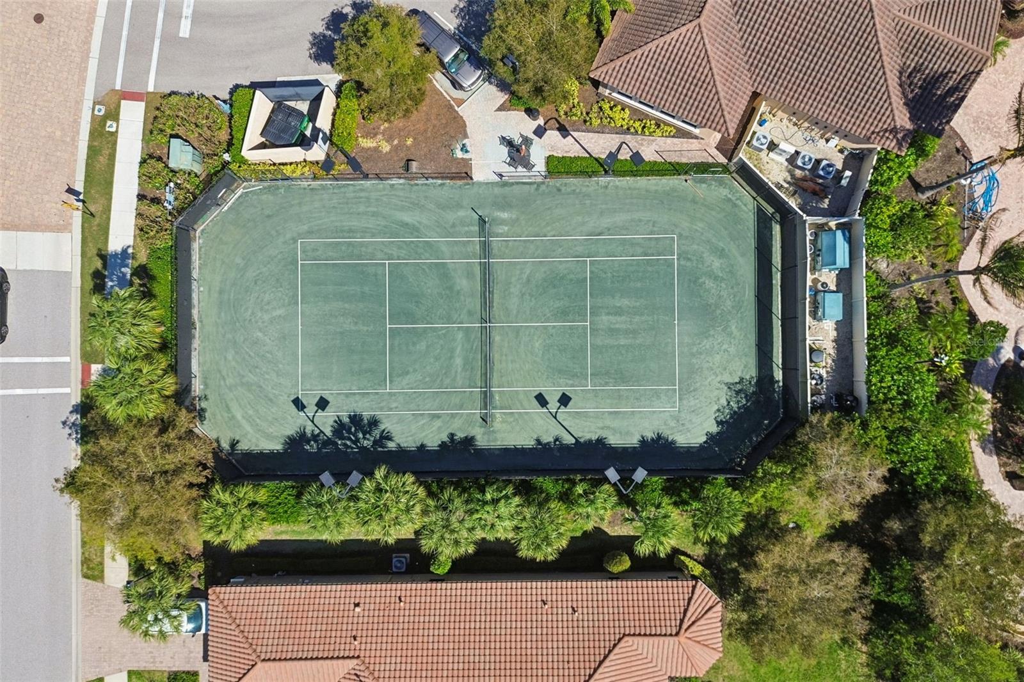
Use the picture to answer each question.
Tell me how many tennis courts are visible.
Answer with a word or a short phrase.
1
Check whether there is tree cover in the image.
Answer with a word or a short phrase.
Yes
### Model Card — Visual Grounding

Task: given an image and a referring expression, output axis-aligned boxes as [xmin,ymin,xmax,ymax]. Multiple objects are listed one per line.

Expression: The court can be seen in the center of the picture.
[190,169,788,476]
